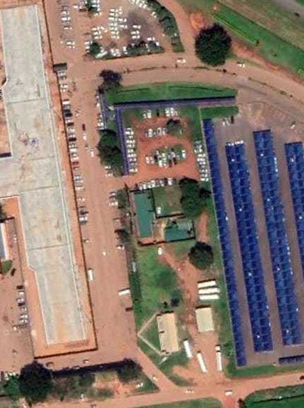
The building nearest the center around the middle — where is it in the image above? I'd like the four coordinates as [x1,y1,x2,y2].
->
[134,190,156,239]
